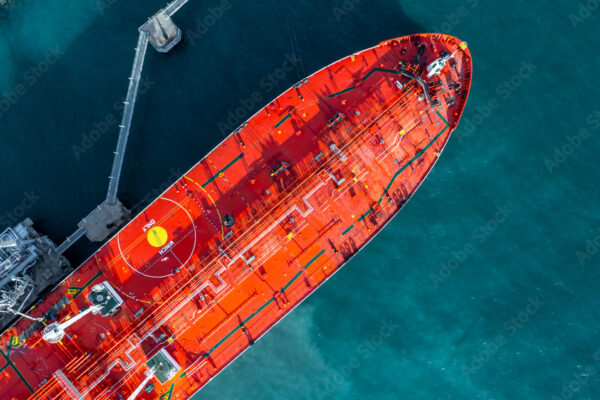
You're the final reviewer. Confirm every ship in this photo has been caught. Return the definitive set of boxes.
[0,33,475,400]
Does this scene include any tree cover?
No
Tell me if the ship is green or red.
red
